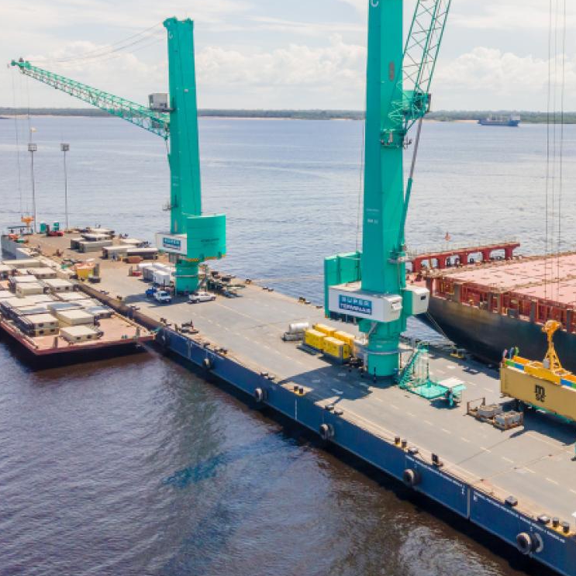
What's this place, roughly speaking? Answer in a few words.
port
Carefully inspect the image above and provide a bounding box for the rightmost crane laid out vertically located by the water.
[318,0,453,377]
